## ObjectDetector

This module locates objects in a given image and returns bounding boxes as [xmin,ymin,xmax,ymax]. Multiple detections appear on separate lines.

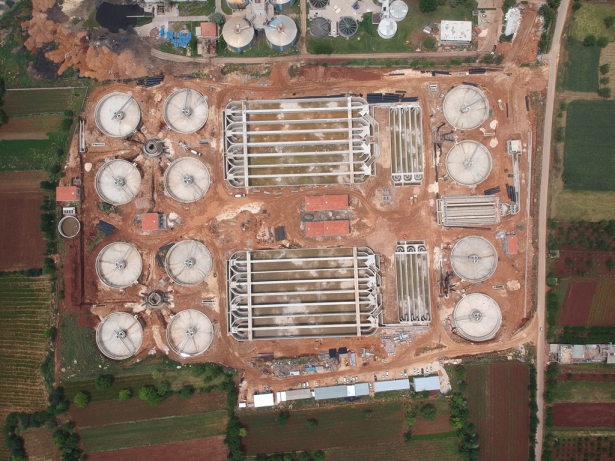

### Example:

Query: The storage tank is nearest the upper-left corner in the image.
[94,92,142,139]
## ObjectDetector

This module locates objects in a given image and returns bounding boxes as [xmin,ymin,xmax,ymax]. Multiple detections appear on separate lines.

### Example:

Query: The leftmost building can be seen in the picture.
[55,187,82,201]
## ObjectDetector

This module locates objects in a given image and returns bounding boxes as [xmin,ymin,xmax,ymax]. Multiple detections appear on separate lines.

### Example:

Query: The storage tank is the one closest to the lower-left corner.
[95,312,144,359]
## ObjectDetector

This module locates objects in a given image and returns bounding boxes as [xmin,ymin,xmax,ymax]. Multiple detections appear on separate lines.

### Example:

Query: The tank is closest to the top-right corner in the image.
[443,85,489,131]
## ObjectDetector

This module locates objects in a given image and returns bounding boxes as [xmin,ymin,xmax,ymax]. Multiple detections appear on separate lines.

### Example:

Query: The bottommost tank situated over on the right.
[452,293,502,342]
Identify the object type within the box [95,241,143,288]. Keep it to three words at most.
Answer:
storage tank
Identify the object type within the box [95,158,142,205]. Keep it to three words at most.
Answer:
storage tank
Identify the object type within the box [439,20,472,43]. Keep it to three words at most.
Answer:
building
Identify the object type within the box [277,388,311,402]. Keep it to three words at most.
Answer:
building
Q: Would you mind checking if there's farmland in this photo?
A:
Yes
